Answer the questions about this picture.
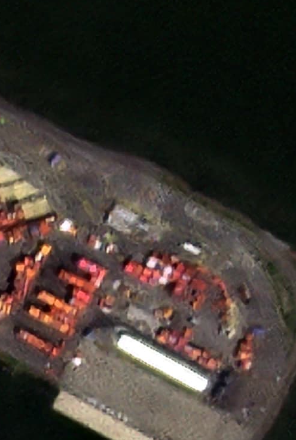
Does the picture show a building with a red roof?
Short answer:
No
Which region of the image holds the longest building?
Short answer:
bottom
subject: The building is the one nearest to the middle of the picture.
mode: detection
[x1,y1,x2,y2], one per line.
[109,203,154,237]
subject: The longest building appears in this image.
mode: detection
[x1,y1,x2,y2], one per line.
[117,333,210,391]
